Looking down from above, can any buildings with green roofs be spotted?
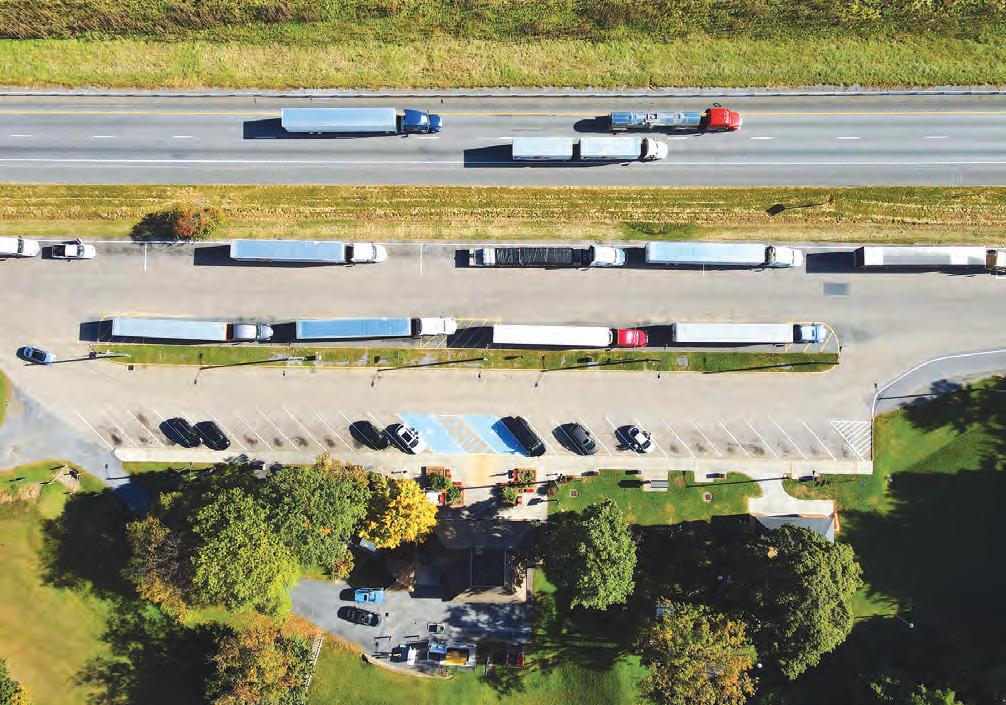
No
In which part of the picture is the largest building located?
bottom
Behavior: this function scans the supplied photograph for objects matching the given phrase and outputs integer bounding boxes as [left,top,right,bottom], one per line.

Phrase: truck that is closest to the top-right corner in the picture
[852,247,1006,271]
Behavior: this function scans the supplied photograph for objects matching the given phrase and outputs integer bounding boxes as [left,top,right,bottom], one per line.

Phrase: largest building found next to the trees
[416,519,536,602]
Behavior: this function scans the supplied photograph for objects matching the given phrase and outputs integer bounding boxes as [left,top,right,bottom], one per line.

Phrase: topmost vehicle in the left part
[281,108,443,135]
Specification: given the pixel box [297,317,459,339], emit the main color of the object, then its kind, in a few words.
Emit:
blue truck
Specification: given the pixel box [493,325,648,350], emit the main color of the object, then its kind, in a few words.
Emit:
white truck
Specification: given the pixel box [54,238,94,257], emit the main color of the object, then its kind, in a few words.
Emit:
white vehicle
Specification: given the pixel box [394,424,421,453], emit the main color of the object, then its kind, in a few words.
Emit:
white car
